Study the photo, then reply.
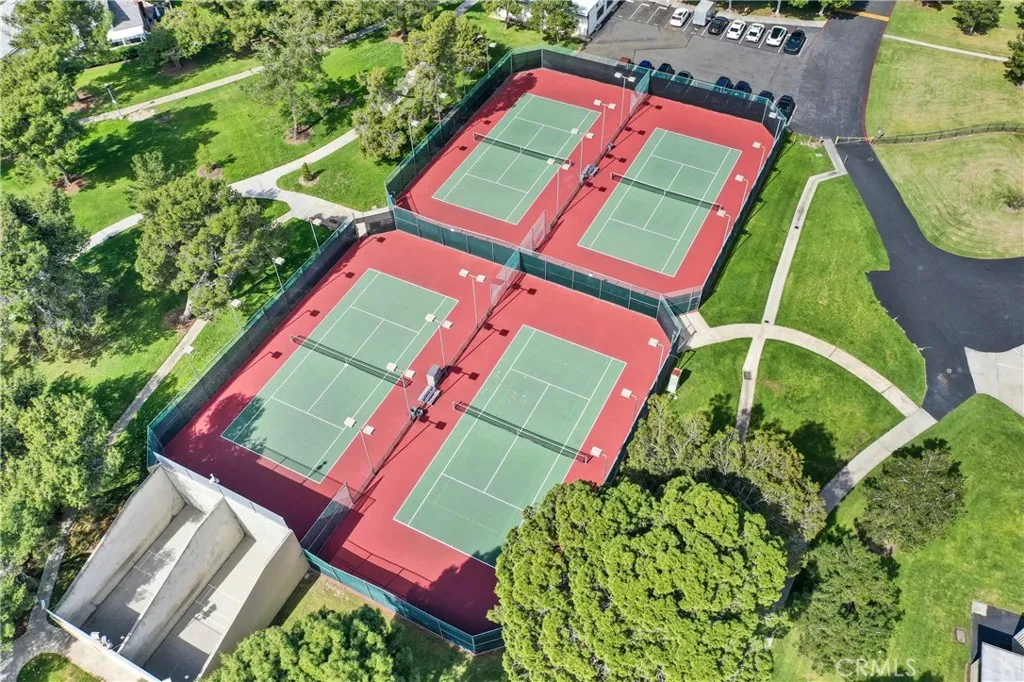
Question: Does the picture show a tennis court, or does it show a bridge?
tennis court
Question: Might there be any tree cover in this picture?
Yes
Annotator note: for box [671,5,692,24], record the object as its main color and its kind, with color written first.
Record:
white car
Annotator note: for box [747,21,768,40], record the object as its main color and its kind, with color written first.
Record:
white car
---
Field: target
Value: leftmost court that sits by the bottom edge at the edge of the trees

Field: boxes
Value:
[44,452,309,682]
